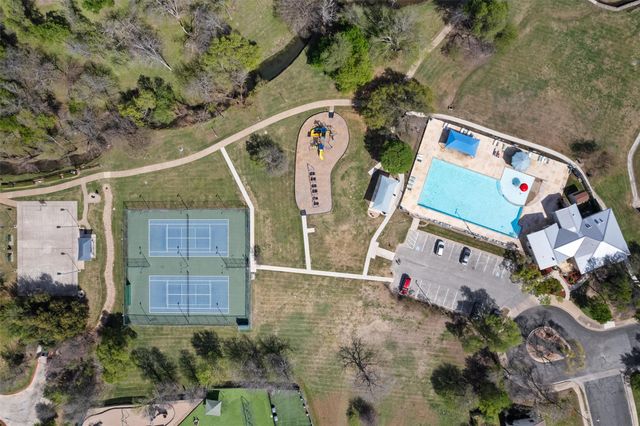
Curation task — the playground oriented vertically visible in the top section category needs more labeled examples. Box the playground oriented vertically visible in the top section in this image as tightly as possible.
[295,111,349,214]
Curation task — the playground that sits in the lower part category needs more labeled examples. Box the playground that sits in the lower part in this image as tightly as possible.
[81,397,204,426]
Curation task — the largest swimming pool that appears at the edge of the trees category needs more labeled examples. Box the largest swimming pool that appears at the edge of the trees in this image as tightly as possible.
[400,119,569,261]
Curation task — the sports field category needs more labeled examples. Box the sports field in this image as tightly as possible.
[178,390,274,426]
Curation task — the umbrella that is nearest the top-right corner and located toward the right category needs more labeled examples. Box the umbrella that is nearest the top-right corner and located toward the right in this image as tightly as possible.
[511,152,530,171]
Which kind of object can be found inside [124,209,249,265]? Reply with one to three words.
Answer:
tennis court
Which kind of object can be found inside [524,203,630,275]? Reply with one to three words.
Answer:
building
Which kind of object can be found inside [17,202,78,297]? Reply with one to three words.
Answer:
basketball court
